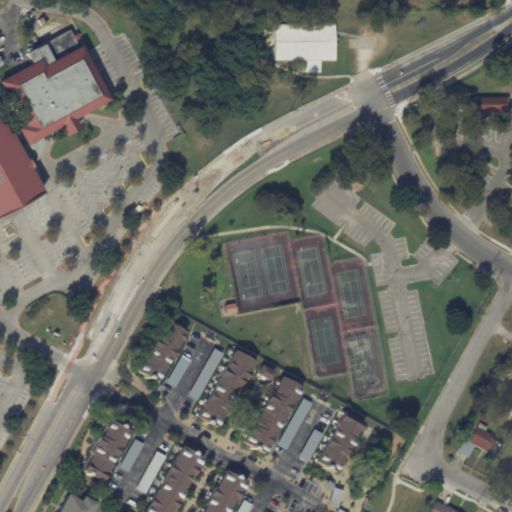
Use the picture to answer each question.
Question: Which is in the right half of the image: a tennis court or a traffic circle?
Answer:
tennis court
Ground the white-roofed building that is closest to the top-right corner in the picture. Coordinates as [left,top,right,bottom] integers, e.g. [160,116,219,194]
[274,24,338,72]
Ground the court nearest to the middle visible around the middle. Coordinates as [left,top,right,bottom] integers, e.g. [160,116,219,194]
[228,232,302,312]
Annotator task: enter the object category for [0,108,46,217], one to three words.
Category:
building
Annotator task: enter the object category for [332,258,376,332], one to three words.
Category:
tennis court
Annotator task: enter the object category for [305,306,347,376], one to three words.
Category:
tennis court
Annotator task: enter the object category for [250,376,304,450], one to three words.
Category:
building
